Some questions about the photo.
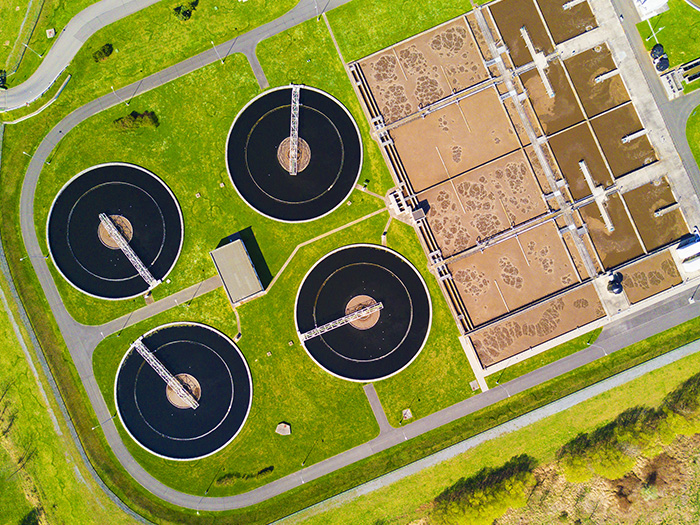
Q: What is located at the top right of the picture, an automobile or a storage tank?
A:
storage tank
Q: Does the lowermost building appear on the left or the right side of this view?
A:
left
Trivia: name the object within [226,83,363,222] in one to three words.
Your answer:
storage tank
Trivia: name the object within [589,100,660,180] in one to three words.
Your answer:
storage tank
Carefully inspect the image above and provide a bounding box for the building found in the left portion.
[211,239,266,303]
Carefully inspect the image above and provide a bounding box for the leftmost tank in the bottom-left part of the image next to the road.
[115,322,253,460]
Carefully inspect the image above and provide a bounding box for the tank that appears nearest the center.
[295,243,432,381]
